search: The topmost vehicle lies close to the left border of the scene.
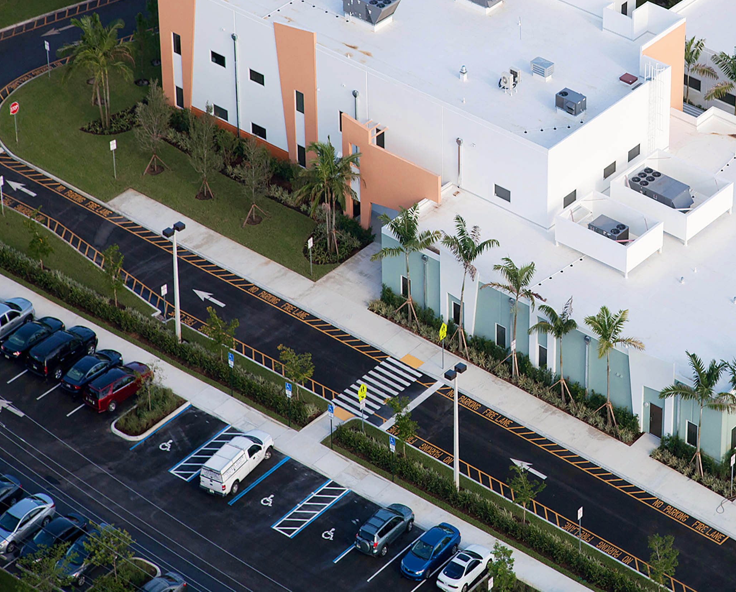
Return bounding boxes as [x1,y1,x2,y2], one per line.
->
[0,295,37,335]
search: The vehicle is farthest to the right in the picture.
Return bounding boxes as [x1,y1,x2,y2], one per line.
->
[430,541,500,592]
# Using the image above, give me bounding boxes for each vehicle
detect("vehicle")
[83,363,158,415]
[0,314,65,364]
[22,326,102,382]
[430,541,500,592]
[127,563,190,592]
[28,507,95,564]
[0,295,37,335]
[0,474,19,505]
[349,505,420,558]
[190,429,279,495]
[54,349,127,400]
[0,496,59,554]
[394,525,465,582]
